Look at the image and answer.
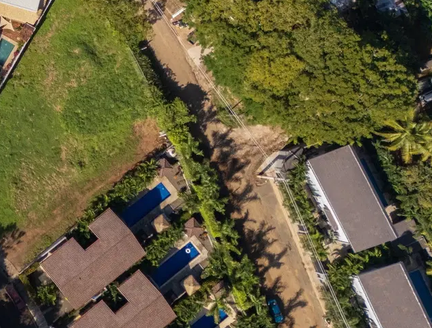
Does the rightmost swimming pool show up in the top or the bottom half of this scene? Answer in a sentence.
You can find the rightmost swimming pool in the bottom half.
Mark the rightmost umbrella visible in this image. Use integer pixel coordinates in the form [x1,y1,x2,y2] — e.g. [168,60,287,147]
[182,275,199,293]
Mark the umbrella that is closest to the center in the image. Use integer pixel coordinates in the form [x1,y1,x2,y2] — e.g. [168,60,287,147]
[152,213,169,231]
